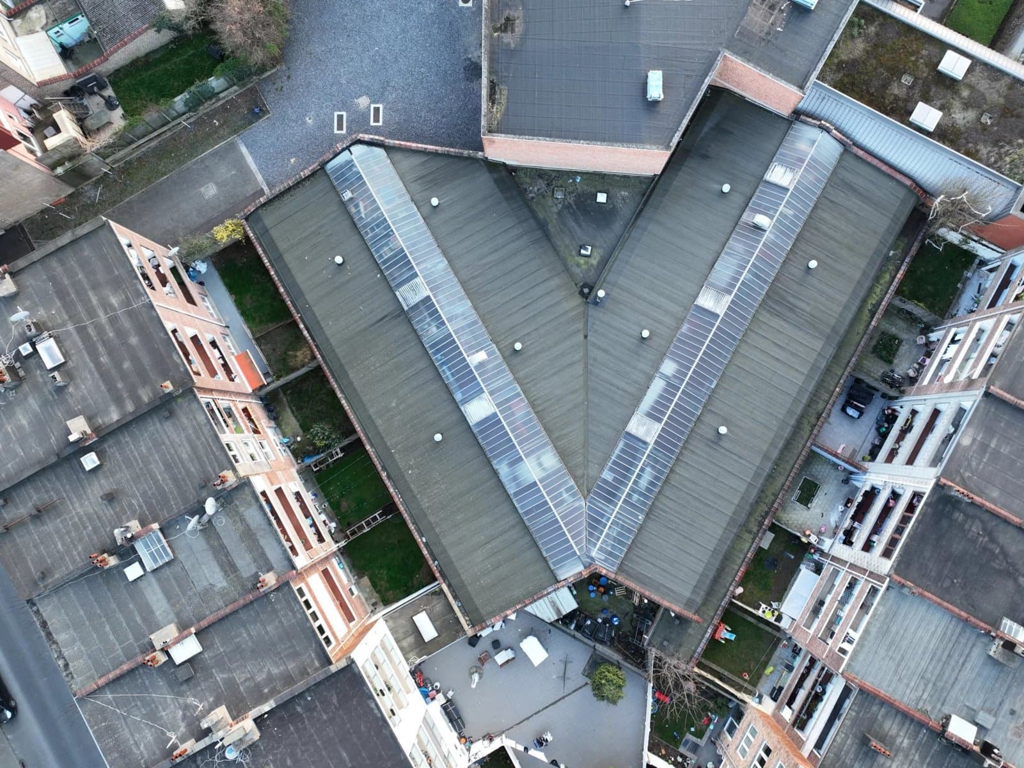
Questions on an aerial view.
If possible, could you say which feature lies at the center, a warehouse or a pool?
warehouse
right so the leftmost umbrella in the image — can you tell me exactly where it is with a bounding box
[87,82,118,109]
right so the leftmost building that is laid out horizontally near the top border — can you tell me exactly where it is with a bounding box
[0,0,186,89]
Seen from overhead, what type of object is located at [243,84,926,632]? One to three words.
warehouse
